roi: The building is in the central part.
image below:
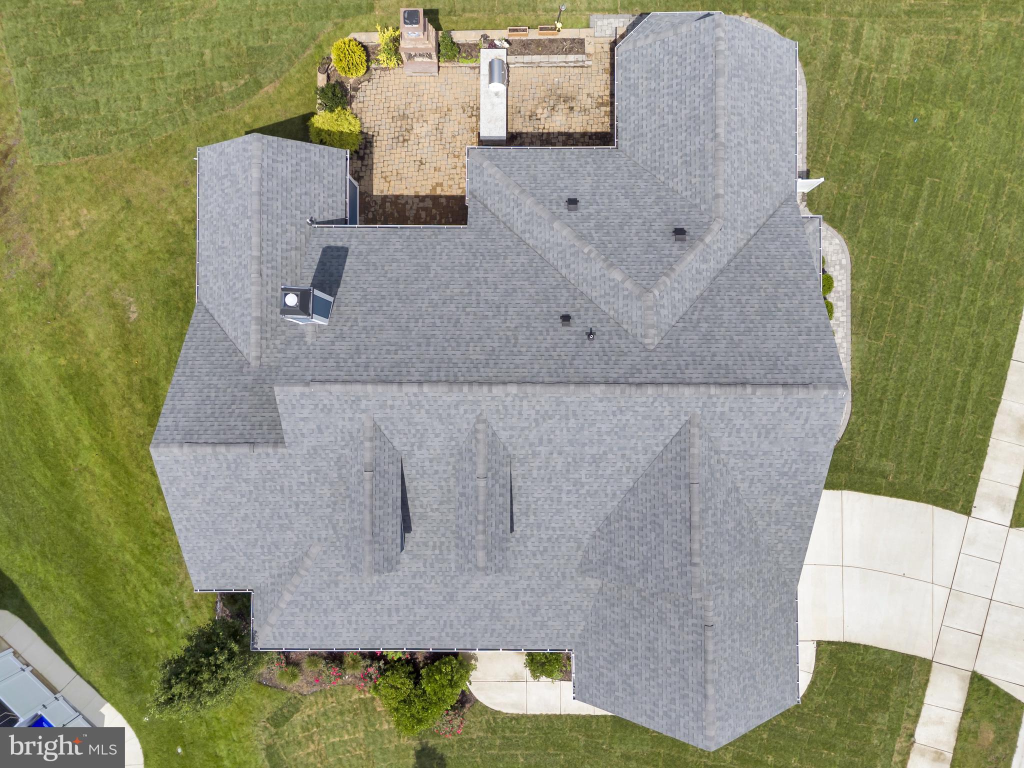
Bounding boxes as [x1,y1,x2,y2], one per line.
[150,12,848,751]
